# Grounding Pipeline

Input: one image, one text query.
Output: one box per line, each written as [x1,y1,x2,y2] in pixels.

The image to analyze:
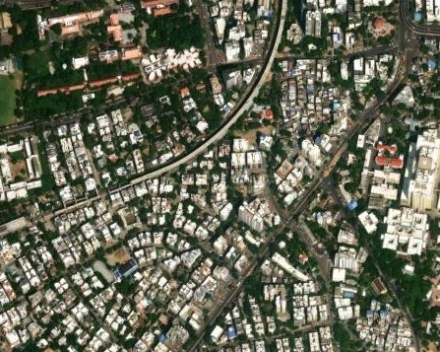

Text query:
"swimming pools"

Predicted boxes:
[335,284,357,297]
